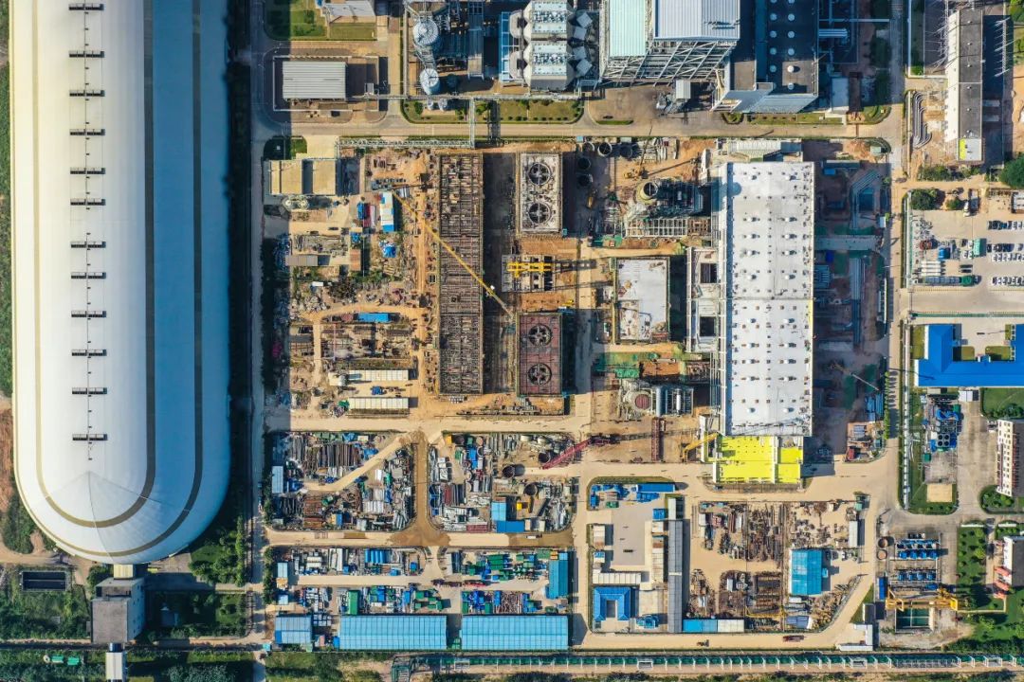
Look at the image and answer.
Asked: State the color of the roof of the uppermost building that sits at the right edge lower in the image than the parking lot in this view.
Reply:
blue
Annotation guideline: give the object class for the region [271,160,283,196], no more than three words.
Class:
shed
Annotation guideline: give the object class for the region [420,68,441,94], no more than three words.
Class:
silo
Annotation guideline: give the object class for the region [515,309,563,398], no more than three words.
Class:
cooling tower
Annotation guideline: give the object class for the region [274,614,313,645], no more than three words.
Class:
building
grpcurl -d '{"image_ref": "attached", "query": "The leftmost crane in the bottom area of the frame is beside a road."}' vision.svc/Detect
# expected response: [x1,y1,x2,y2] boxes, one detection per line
[540,431,621,469]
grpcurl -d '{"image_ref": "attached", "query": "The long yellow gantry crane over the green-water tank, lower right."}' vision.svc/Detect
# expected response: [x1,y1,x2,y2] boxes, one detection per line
[880,593,958,612]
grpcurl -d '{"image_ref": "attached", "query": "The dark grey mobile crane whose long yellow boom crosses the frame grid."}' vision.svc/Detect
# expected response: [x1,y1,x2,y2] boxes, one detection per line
[371,176,514,317]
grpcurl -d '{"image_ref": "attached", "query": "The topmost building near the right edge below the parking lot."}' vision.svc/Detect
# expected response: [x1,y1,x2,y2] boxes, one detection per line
[914,324,1024,386]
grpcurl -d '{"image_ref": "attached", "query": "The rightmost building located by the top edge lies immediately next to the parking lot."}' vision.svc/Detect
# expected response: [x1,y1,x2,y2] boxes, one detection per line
[947,9,983,144]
